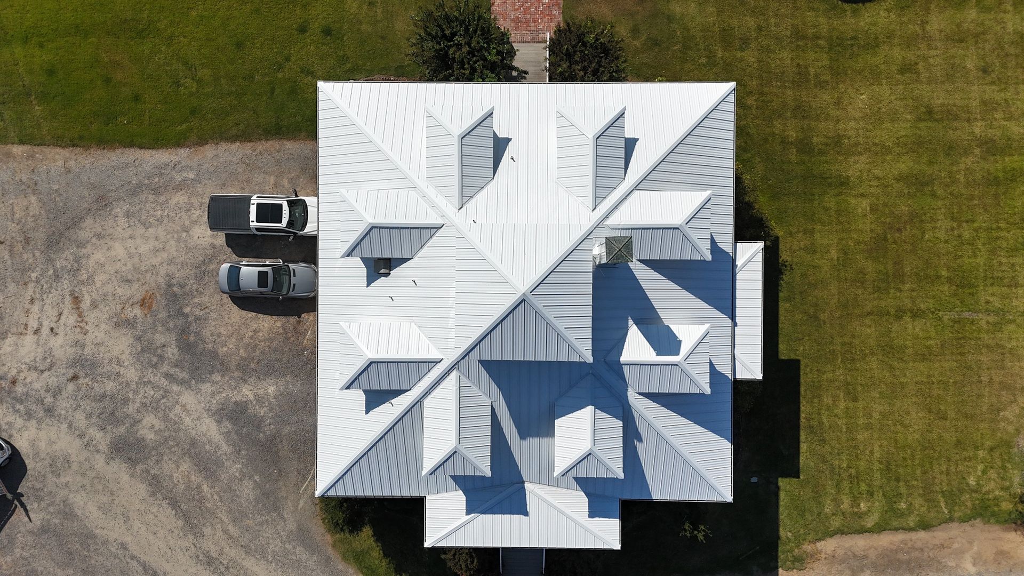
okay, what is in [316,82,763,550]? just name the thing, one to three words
house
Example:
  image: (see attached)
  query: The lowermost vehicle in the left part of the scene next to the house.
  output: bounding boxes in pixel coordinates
[219,259,317,300]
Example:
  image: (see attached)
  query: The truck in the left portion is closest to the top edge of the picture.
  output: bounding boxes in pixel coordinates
[206,185,318,242]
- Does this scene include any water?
No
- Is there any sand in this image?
No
